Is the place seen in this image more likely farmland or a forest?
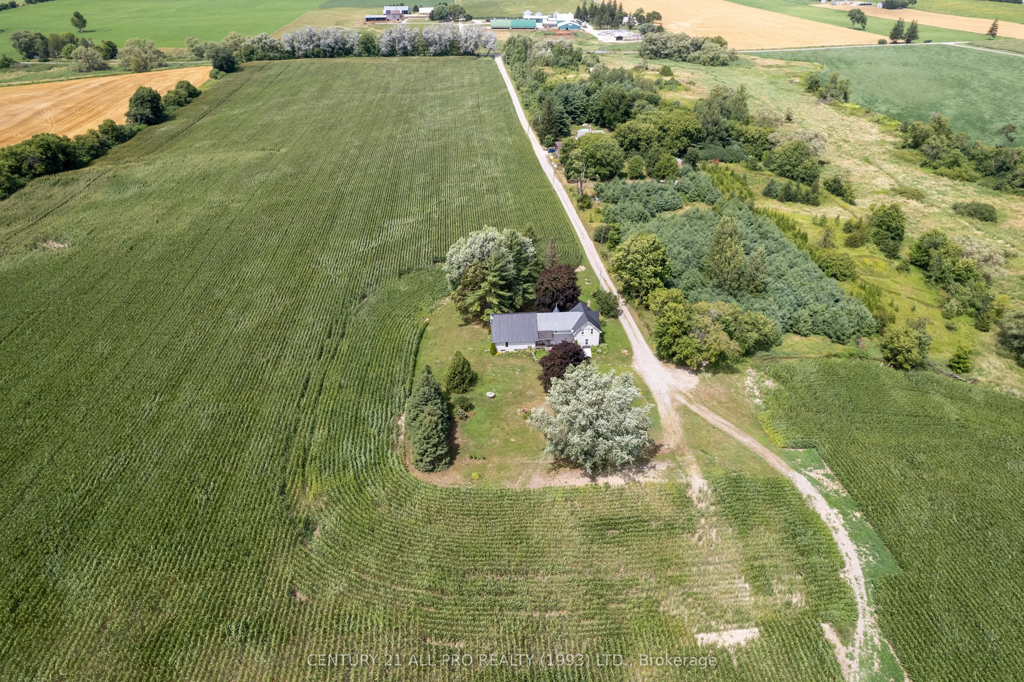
farmland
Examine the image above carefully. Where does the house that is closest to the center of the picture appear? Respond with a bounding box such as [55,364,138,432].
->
[489,299,603,351]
